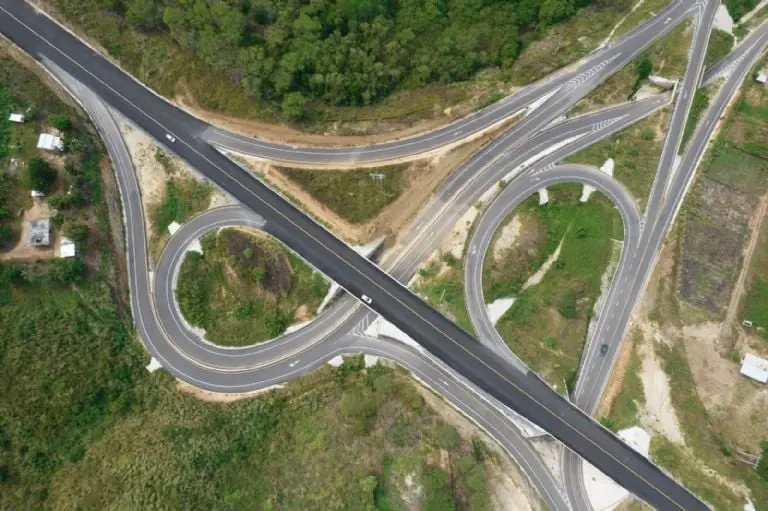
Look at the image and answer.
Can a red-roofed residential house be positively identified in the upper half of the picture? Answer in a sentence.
No, I can find no red-roofed residential house in the upper half of the picture.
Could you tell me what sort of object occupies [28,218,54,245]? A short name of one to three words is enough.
house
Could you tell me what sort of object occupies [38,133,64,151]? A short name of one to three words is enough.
house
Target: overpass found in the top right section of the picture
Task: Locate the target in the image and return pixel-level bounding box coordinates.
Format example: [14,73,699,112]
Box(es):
[672,64,706,101]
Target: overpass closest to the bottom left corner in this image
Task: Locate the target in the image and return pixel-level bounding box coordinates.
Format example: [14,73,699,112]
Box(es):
[328,246,428,334]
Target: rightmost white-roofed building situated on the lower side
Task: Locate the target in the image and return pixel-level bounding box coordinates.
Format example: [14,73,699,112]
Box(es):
[735,351,768,385]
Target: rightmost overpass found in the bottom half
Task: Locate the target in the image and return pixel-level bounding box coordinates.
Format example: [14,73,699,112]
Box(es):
[533,393,623,470]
